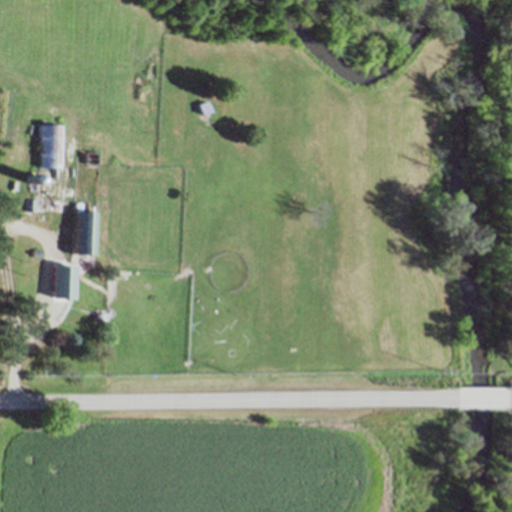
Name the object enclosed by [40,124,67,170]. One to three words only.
barn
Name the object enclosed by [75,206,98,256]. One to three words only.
barn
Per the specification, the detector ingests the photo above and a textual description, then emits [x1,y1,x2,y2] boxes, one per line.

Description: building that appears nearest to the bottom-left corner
[54,262,78,300]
